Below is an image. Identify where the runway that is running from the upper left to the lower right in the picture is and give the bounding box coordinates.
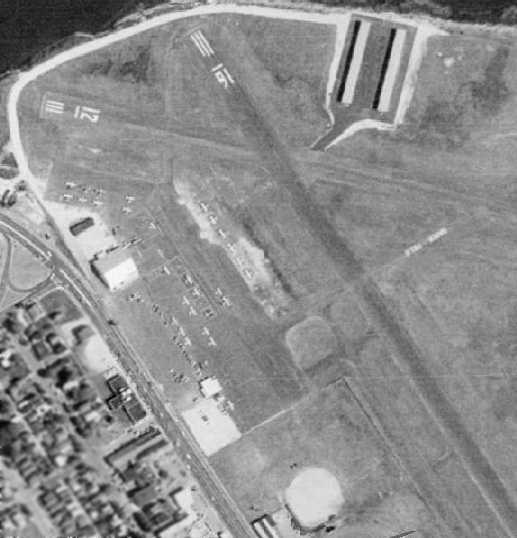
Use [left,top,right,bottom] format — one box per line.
[182,23,517,538]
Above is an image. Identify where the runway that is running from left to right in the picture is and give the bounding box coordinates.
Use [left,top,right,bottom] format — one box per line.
[39,91,517,205]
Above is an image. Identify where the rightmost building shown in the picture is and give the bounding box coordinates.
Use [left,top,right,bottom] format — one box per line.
[378,30,406,113]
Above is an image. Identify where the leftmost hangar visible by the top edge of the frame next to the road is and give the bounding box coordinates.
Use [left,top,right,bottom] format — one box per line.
[342,24,370,105]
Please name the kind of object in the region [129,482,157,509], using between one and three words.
building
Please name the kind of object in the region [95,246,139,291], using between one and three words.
hangar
